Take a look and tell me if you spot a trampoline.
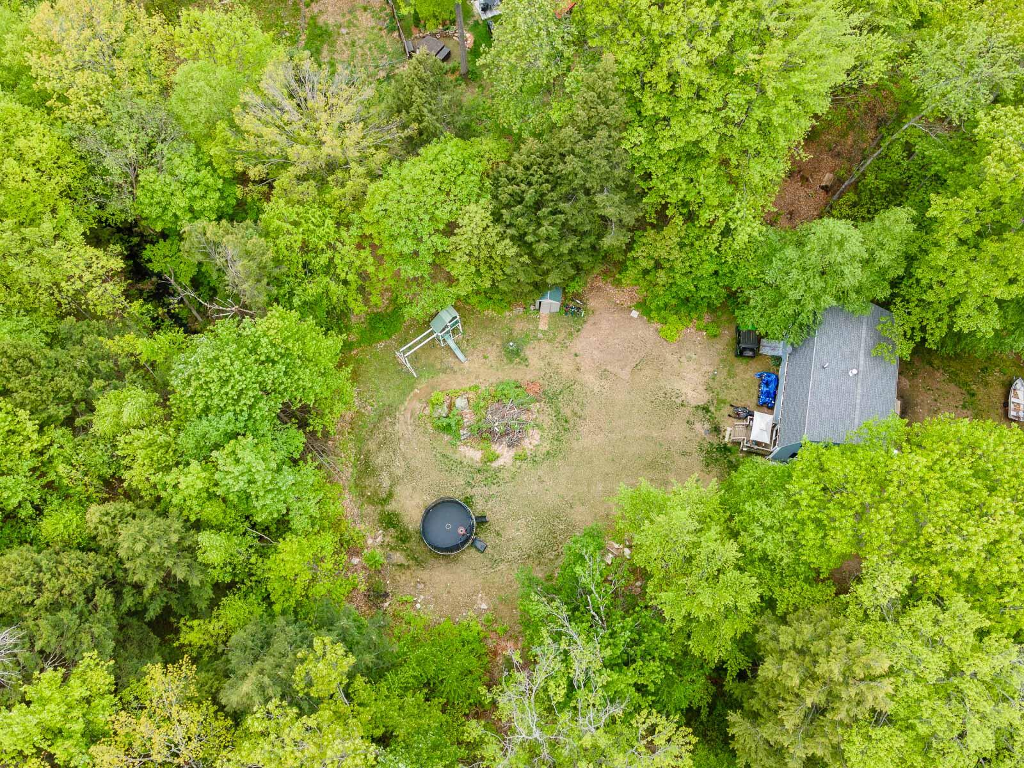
Yes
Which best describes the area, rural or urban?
rural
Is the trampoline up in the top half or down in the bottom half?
bottom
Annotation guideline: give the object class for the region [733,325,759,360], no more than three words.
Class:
vehicle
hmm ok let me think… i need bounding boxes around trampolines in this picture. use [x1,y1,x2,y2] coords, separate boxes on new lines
[419,499,475,557]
